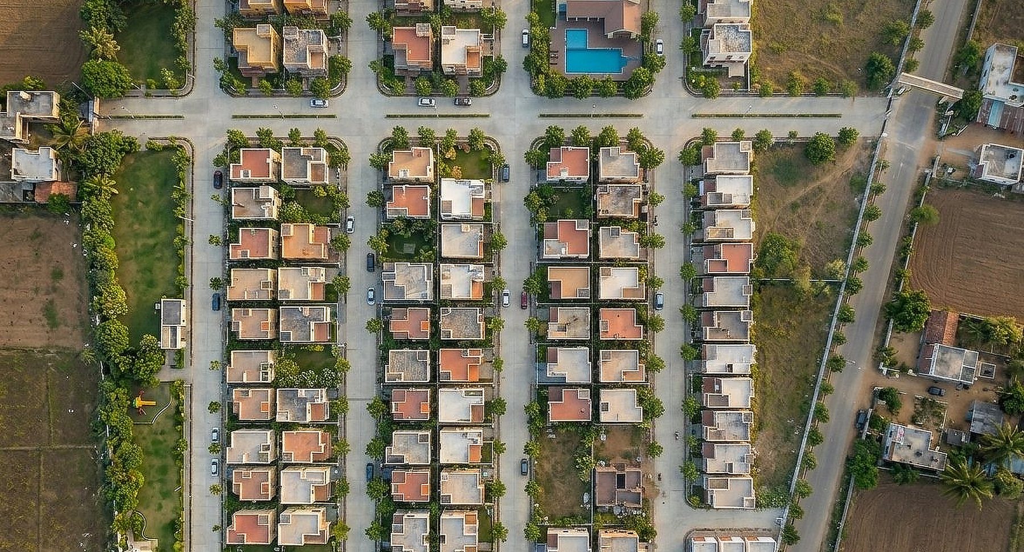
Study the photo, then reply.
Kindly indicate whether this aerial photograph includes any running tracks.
No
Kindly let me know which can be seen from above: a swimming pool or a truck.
swimming pool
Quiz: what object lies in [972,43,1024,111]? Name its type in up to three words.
house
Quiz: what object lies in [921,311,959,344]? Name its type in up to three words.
building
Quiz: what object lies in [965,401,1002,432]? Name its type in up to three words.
shed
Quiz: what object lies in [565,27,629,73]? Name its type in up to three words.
swimming pool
